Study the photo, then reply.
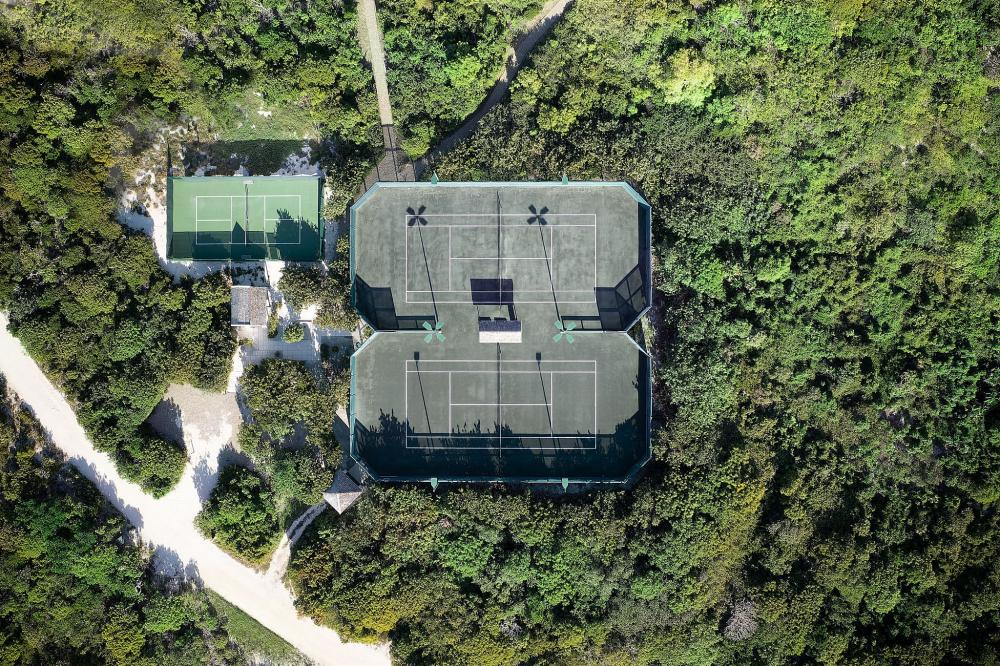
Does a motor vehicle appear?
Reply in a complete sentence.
No, I can't see a single motor vehicle in this photo.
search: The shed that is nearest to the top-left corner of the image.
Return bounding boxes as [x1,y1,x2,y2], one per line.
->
[231,285,273,326]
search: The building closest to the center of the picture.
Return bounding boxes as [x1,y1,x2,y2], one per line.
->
[479,320,522,343]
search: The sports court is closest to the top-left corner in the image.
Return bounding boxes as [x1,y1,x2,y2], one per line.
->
[175,181,323,262]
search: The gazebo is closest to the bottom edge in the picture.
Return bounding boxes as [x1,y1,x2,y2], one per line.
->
[322,469,364,515]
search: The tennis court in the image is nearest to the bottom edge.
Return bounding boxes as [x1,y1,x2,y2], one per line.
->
[357,331,646,478]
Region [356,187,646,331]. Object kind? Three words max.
tennis court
